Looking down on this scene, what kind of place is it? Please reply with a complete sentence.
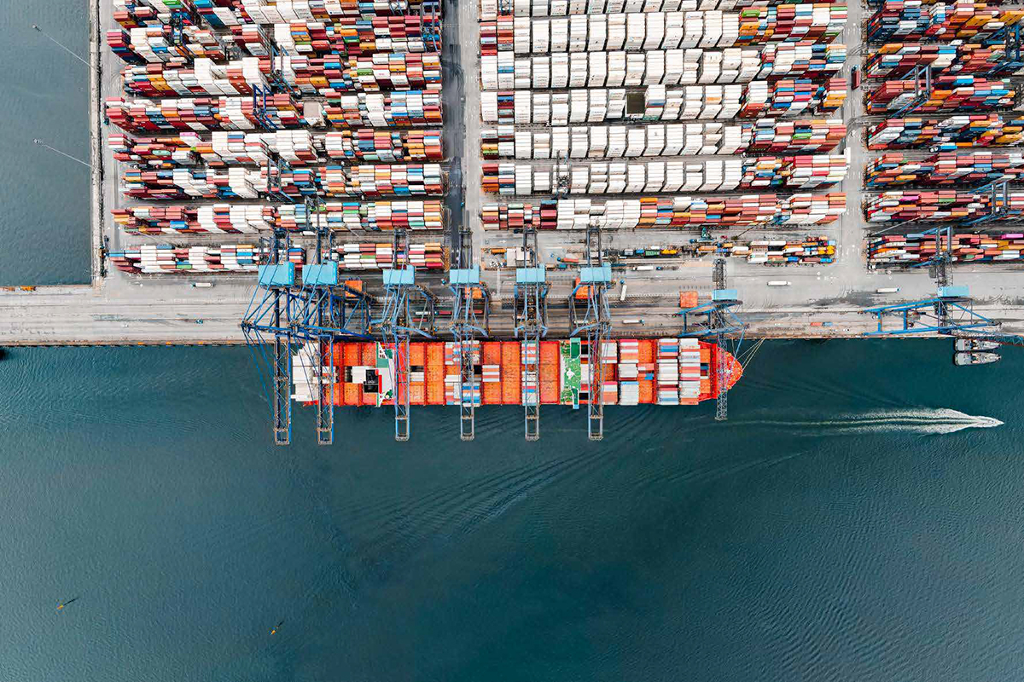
It's a port.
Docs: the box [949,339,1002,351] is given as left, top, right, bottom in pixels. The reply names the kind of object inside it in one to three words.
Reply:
boat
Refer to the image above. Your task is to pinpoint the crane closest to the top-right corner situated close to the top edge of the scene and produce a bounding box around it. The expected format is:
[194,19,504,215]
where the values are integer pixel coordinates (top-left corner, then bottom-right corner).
[963,14,1021,79]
